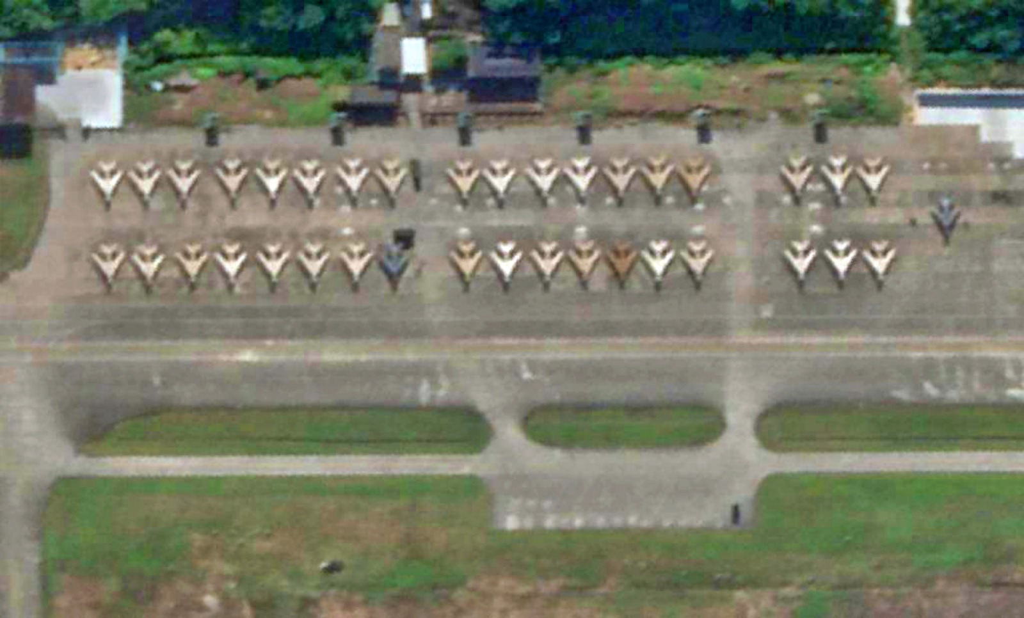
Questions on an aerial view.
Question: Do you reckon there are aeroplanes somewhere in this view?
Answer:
Yes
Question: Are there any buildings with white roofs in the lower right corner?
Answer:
No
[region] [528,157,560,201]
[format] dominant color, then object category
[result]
white airplane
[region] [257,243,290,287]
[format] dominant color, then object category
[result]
white airplane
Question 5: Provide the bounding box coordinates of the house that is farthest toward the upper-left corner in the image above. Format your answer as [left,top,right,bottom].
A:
[0,64,32,122]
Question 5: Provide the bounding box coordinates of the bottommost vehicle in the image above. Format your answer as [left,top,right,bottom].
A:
[320,560,344,572]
